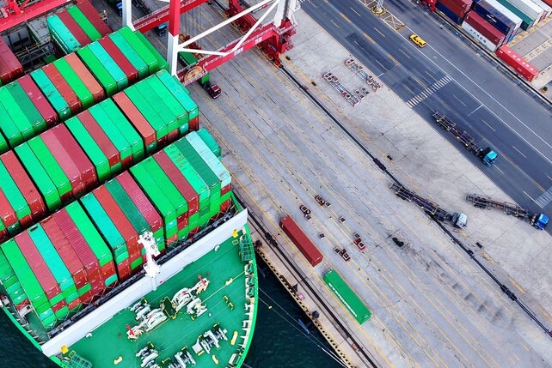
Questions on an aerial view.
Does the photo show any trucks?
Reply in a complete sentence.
Yes, a truck is visible in the scene.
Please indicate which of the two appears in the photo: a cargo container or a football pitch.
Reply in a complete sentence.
This aerial view contains a cargo container.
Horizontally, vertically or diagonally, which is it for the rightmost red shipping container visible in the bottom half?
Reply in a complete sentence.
The rightmost red shipping container visible in the bottom half is oriented diagonally.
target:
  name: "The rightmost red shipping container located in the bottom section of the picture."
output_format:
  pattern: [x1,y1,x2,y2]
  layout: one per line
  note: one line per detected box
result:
[279,216,323,267]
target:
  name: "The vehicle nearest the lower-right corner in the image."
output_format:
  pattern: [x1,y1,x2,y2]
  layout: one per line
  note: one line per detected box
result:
[472,192,546,229]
